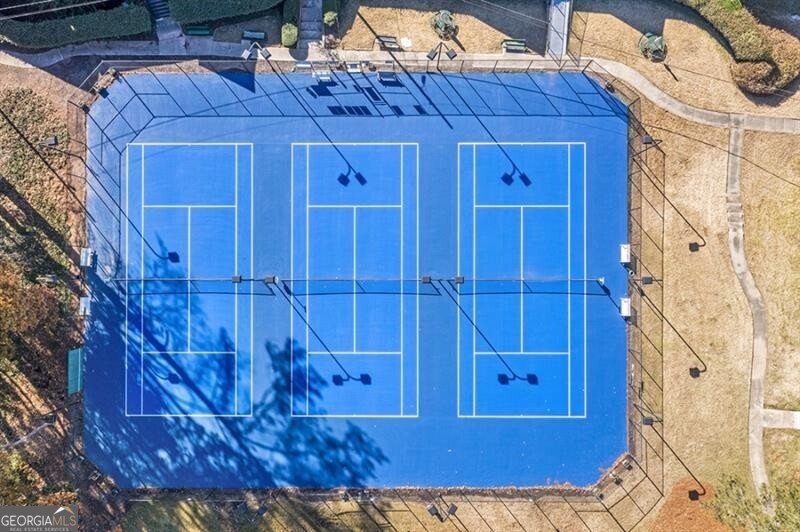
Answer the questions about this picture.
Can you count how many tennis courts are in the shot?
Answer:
three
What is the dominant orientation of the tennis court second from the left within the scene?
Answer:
from top to bottom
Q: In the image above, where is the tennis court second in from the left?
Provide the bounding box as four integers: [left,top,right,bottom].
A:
[291,143,418,417]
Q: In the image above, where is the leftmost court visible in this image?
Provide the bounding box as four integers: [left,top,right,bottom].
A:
[125,144,252,416]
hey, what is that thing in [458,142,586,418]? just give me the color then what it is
blue tennis court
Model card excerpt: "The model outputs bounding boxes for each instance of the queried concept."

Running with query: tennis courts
[125,144,252,416]
[291,143,418,417]
[458,142,586,418]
